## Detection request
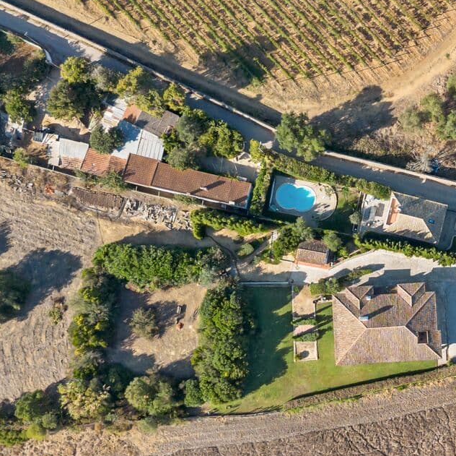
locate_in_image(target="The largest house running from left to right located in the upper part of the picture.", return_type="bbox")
[123,154,254,210]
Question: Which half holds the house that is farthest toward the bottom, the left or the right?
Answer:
right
